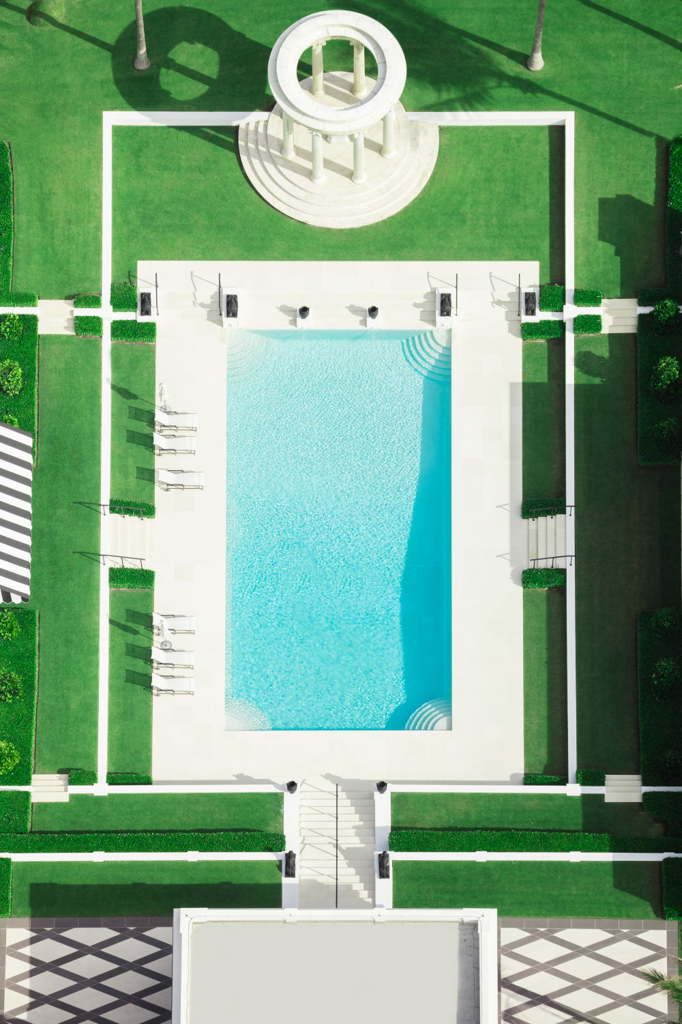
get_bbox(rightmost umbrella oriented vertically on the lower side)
[160,621,172,650]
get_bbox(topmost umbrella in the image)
[159,384,172,414]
